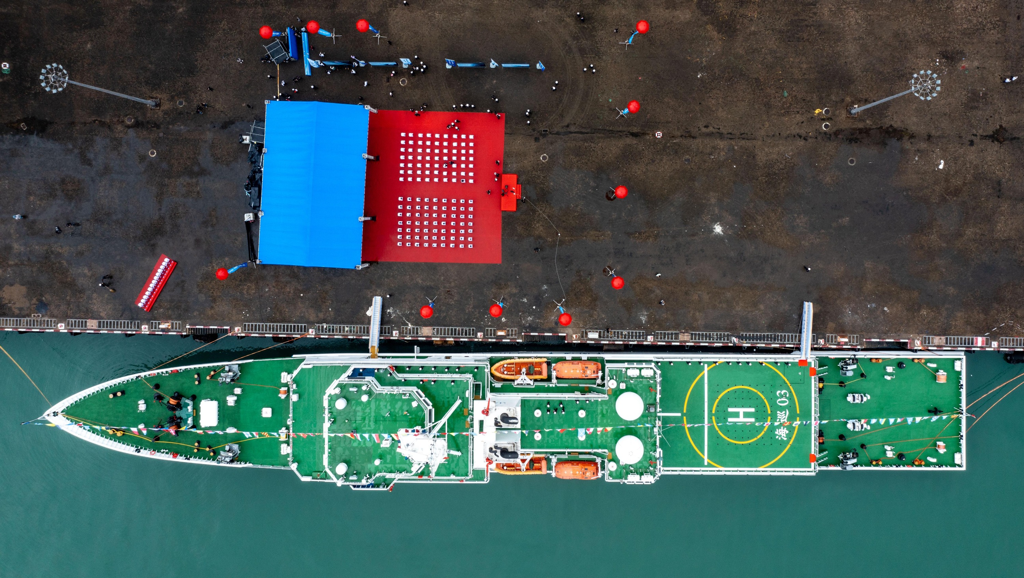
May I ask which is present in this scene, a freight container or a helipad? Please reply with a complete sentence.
There is a helipad in the scene.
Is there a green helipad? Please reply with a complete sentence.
Yes, there's a green helipad down there.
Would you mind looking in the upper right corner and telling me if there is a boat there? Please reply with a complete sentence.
No, in the upper right corner there is no boat.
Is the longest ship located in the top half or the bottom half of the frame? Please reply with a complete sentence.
The longest ship sits in the bottom half of the picture.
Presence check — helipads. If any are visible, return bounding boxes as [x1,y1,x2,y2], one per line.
[649,356,819,476]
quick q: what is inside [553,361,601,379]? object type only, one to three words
boat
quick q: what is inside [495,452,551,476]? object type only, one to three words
boat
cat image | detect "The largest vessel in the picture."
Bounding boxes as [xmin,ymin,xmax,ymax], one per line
[21,346,976,491]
